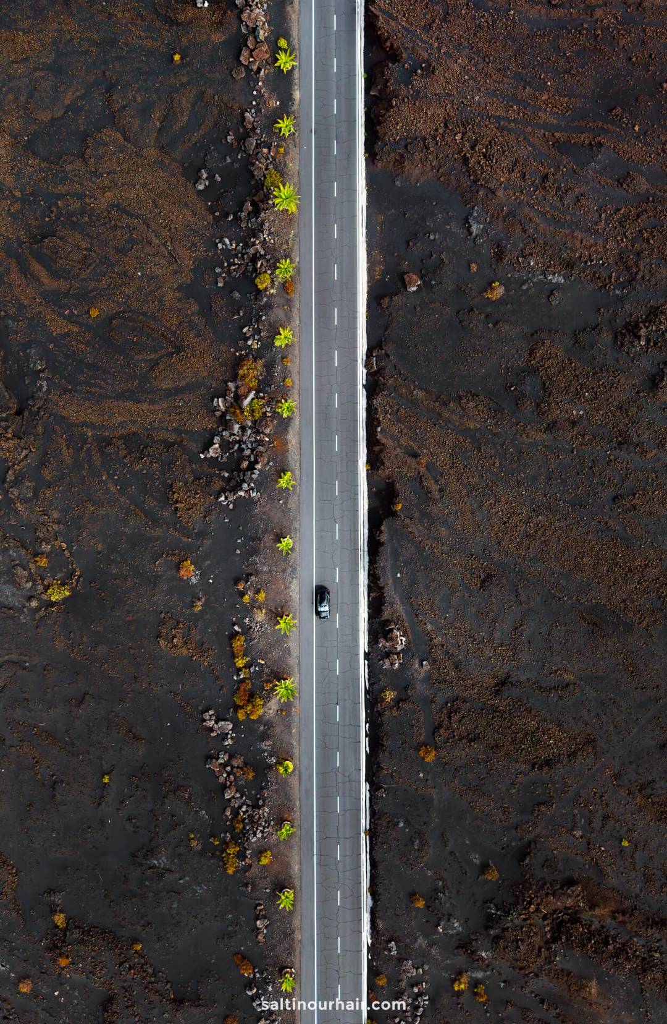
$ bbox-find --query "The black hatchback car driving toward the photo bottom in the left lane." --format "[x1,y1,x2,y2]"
[313,586,331,619]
